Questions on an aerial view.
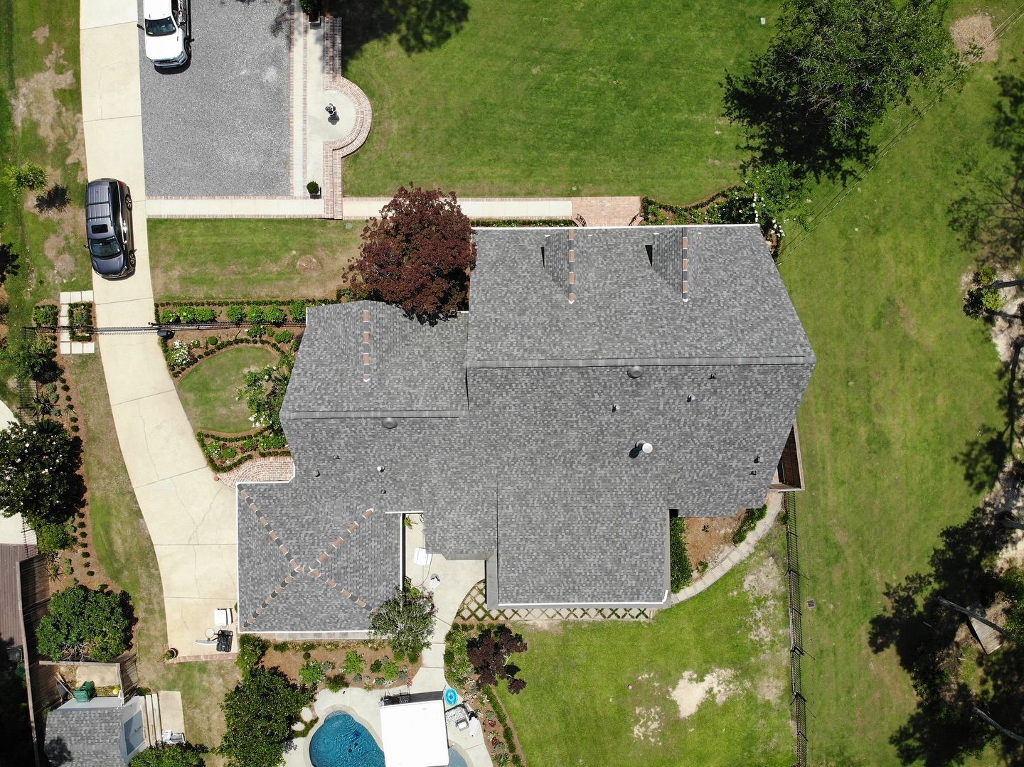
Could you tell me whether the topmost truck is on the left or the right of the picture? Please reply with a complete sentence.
The topmost truck appears in the left half of the scene.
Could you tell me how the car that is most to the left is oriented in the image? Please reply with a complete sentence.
The car that is most to the left has been laid out from top to bottom relative to the frame.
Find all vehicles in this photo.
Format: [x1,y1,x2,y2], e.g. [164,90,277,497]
[86,177,139,280]
[136,0,193,72]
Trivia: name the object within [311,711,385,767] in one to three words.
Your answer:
swimming pool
